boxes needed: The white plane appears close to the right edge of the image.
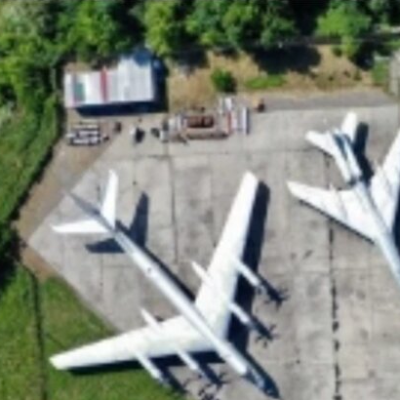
[288,109,400,285]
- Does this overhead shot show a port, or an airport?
airport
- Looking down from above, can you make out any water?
No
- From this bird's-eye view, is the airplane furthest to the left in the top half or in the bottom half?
bottom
